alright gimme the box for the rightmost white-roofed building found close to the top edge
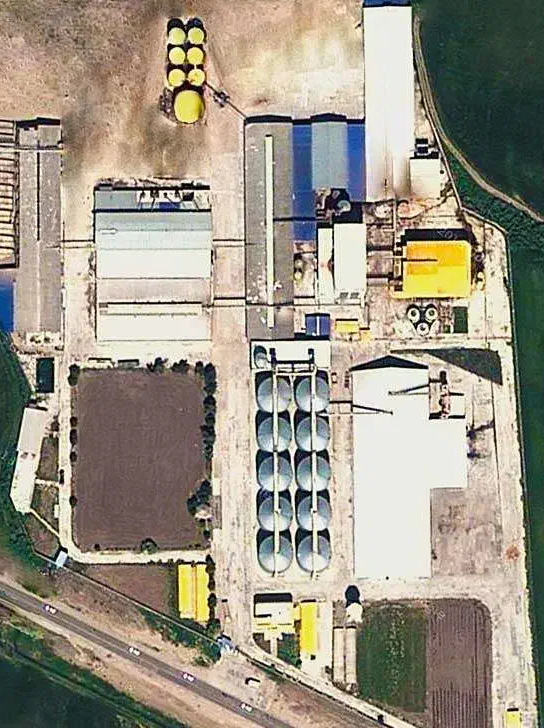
[363,5,416,201]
